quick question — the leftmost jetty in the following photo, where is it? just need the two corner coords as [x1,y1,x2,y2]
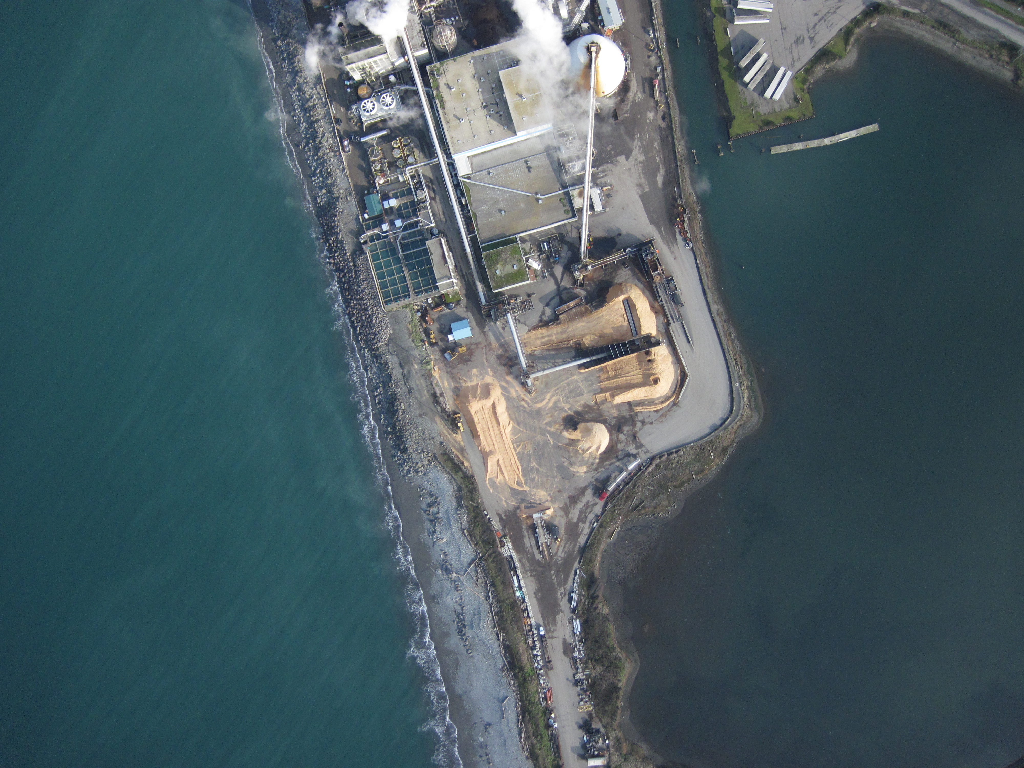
[770,139,826,154]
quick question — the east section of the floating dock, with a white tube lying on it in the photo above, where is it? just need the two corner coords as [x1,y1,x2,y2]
[825,123,878,145]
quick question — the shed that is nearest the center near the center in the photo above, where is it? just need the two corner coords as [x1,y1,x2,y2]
[448,319,473,343]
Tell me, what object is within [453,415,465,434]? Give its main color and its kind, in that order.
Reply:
yellow vehicle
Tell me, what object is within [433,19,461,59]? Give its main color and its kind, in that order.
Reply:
gray storage tank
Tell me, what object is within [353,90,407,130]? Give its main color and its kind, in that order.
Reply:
white cooling tower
